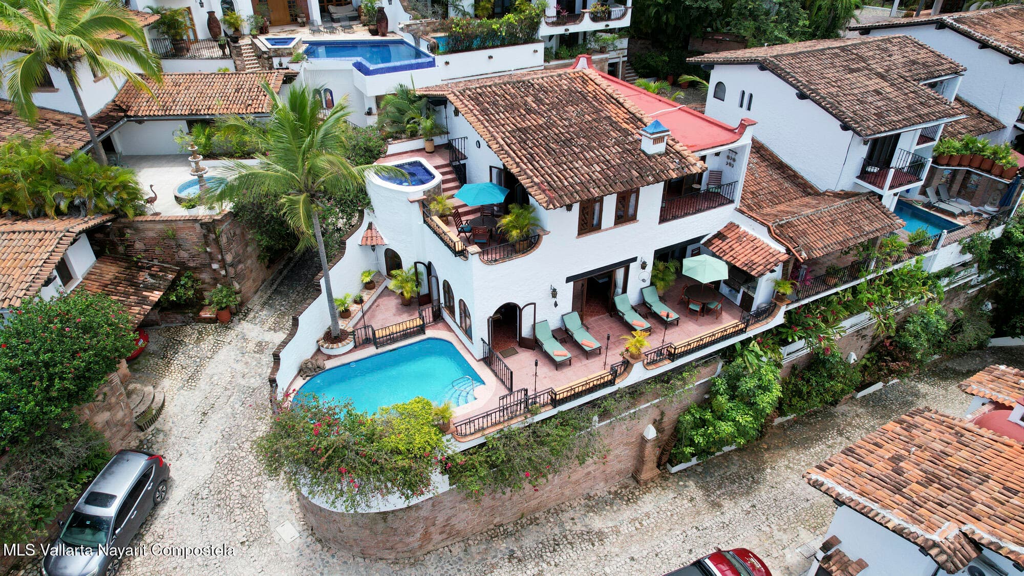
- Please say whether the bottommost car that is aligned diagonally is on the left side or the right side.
left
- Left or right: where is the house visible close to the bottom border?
right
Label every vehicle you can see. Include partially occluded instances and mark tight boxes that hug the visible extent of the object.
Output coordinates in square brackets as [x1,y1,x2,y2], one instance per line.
[123,316,154,345]
[671,544,770,576]
[33,459,162,576]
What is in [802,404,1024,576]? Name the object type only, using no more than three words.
house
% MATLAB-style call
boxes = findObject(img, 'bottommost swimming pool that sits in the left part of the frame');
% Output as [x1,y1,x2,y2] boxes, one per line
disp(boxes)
[285,329,501,442]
